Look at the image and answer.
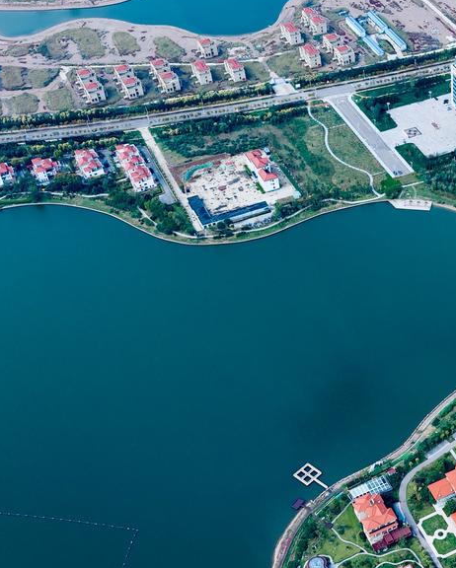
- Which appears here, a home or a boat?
home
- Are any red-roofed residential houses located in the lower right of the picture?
Yes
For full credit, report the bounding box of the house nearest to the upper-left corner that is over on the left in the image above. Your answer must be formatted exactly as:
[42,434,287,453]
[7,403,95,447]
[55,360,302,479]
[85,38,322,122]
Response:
[78,66,107,102]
